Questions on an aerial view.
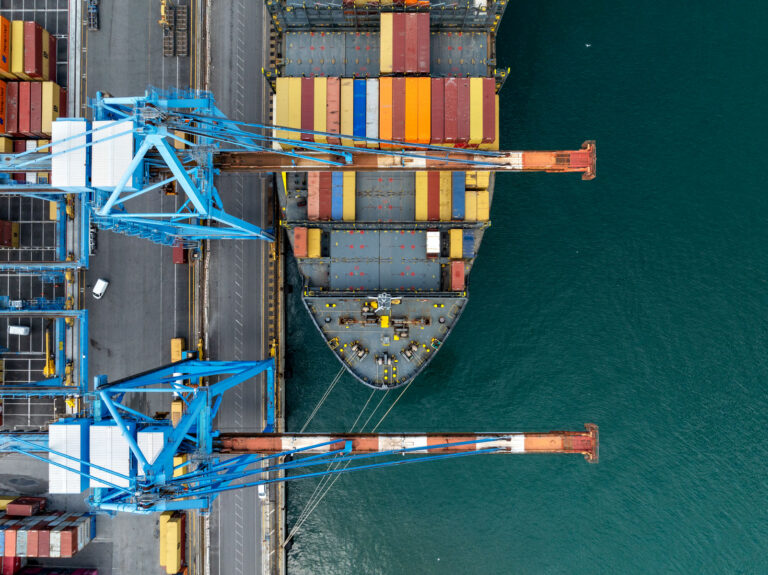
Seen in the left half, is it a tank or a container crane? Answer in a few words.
container crane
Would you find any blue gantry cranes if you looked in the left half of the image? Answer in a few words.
Yes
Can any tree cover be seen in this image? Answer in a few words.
No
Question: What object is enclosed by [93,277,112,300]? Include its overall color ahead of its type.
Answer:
white vehicle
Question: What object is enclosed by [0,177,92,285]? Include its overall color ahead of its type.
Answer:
blue container crane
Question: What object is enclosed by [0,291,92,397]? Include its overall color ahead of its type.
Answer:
blue container crane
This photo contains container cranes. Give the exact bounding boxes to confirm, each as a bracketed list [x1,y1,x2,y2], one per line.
[0,87,596,262]
[0,177,92,285]
[0,333,596,523]
[0,291,92,397]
